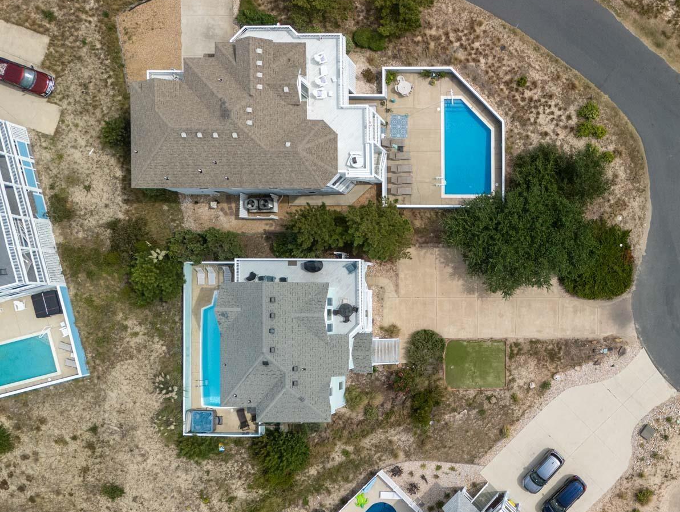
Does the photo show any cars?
Yes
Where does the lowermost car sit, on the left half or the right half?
right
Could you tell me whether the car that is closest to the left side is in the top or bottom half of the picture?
top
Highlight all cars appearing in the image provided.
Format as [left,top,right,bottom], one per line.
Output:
[0,59,60,97]
[521,445,566,495]
[540,470,590,512]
